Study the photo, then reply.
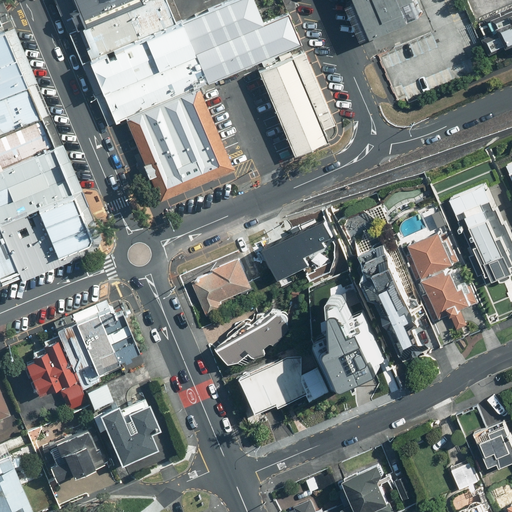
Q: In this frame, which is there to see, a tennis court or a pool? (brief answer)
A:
pool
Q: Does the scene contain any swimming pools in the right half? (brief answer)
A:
Yes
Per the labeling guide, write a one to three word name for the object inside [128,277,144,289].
vehicle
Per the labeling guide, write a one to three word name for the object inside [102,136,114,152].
vehicle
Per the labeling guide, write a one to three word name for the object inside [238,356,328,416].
building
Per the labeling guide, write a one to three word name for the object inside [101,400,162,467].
house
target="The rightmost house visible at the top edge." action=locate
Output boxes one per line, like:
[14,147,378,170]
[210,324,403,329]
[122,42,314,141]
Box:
[478,11,512,56]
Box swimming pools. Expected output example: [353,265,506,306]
[400,214,426,238]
